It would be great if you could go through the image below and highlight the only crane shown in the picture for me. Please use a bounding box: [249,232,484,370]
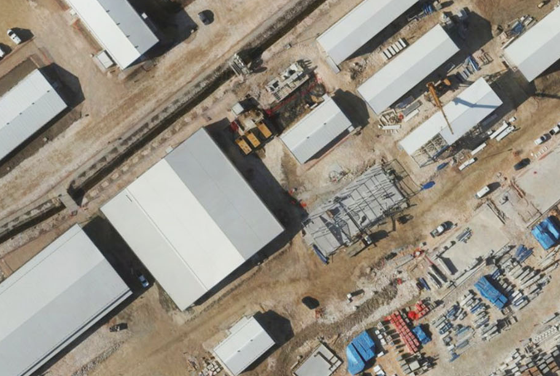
[418,75,454,142]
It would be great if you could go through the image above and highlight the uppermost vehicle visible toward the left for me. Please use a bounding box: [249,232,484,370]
[196,9,210,23]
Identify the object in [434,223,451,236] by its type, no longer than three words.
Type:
vehicle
